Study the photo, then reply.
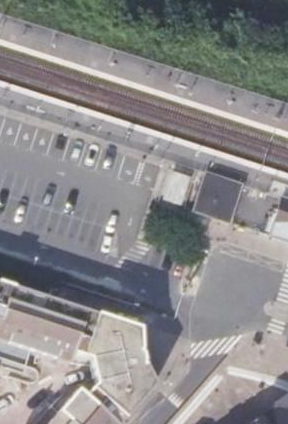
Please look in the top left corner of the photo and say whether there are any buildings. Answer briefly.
No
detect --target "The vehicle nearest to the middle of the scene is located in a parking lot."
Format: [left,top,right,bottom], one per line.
[105,212,119,234]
